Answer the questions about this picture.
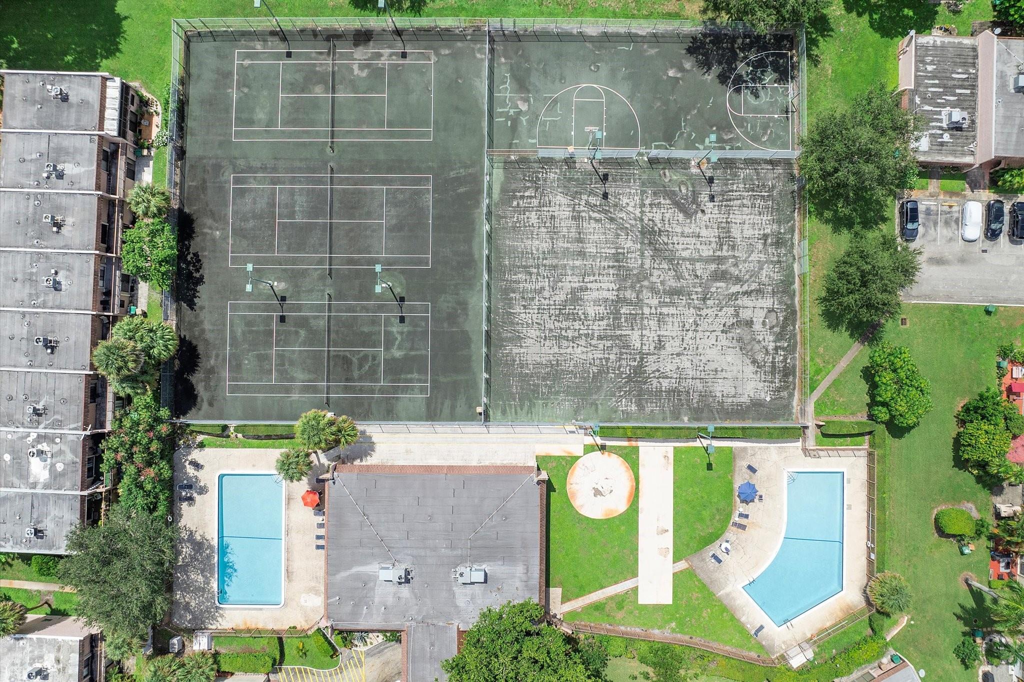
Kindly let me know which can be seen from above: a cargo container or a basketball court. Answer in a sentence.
The one in the frame is a basketball court.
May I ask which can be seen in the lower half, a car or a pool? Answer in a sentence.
Visible in the lower half is a pool.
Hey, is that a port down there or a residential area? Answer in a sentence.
This image shows a residential area.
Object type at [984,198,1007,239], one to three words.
car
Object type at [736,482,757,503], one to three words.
umbrella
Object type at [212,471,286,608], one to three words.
swimming pool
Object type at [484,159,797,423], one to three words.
sports court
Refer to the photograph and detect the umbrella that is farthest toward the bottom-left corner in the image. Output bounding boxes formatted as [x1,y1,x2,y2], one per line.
[301,489,322,508]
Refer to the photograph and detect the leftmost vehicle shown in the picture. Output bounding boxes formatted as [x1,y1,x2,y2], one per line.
[902,199,924,240]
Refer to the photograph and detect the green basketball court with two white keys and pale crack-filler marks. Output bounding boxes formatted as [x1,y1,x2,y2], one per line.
[487,33,796,159]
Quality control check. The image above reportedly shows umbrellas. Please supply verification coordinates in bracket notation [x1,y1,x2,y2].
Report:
[301,489,322,508]
[736,482,757,503]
